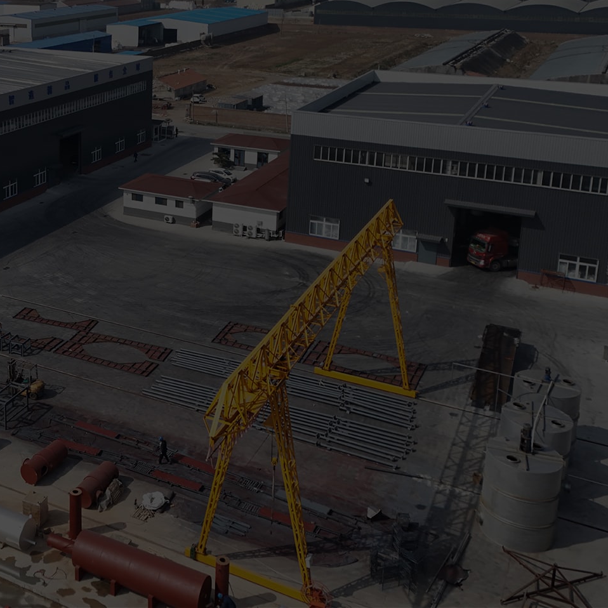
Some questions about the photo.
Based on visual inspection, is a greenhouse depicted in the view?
Yes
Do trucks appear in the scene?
Yes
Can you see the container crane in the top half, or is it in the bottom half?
bottom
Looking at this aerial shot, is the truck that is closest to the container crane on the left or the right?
right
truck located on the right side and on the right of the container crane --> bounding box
[462,231,519,277]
